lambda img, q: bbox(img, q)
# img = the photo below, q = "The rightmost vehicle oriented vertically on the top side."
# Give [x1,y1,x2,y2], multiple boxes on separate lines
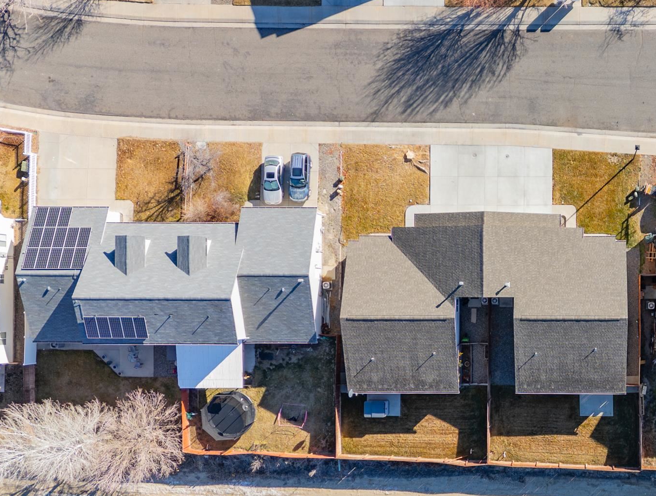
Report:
[287,153,313,204]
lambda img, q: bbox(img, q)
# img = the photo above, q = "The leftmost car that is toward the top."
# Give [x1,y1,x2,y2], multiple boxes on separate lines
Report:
[261,157,286,205]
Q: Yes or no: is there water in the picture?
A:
No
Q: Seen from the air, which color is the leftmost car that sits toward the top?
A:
white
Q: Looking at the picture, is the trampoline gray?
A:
Yes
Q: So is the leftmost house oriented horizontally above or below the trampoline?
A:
above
